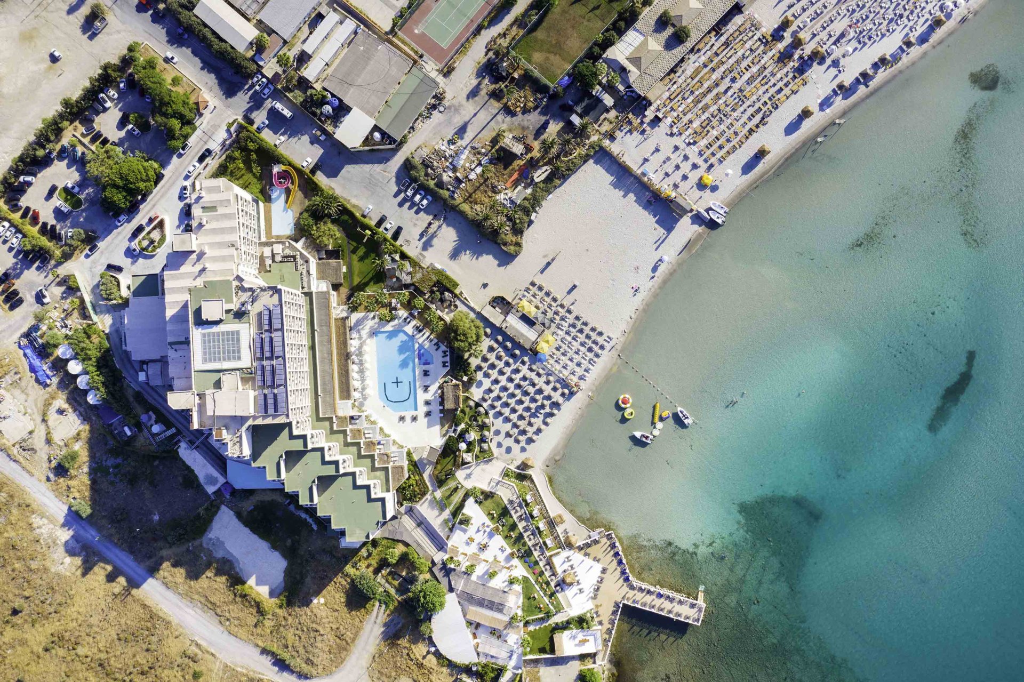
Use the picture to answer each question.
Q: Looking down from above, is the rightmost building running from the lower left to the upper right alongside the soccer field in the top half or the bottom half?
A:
top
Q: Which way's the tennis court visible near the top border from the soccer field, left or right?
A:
on the left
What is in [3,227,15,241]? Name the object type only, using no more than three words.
vehicle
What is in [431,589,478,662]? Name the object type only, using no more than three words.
building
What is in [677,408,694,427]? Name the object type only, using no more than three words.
boat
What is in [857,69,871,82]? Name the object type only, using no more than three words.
gazebo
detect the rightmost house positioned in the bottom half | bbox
[553,624,602,655]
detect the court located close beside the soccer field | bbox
[394,0,497,66]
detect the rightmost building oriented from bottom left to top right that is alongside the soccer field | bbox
[603,0,738,98]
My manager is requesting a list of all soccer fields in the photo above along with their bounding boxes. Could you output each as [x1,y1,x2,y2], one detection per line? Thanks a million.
[512,0,631,86]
